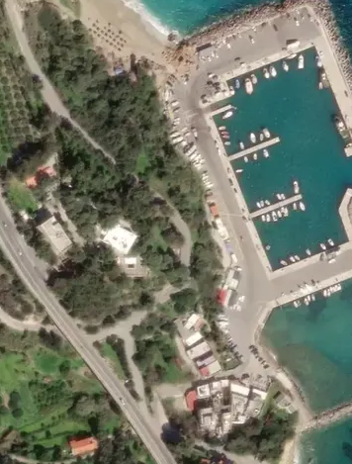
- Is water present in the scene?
Yes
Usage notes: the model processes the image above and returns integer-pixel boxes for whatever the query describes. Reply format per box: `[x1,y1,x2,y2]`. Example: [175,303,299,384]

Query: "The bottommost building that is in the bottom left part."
[68,438,98,458]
